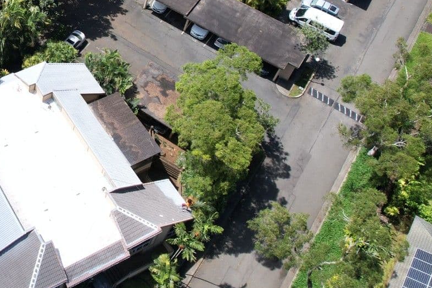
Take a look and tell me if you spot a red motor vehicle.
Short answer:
No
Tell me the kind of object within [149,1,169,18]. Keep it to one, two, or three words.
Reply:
car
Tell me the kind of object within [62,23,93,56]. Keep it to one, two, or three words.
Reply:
car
